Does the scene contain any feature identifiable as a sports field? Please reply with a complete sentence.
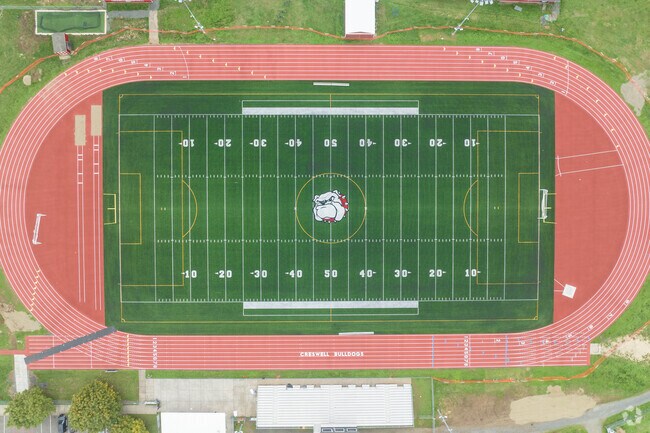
Yes, the frame does contain a sports field.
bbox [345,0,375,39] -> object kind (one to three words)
building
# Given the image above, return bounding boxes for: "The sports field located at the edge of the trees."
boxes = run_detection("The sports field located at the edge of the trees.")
[102,81,555,336]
